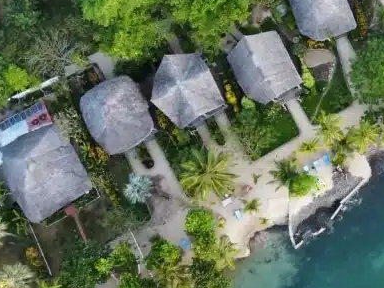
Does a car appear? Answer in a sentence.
No, no car can be seen from above.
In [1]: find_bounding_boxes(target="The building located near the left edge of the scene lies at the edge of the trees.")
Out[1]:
[0,99,93,227]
